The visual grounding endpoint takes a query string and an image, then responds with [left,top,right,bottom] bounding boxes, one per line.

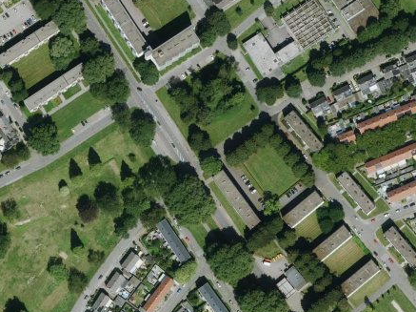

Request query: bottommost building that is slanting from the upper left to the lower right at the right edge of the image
[382,224,416,269]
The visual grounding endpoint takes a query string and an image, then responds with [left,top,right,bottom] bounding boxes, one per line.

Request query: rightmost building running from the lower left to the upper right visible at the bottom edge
[340,260,382,300]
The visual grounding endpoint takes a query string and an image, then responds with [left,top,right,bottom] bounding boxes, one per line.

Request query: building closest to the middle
[212,170,259,232]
